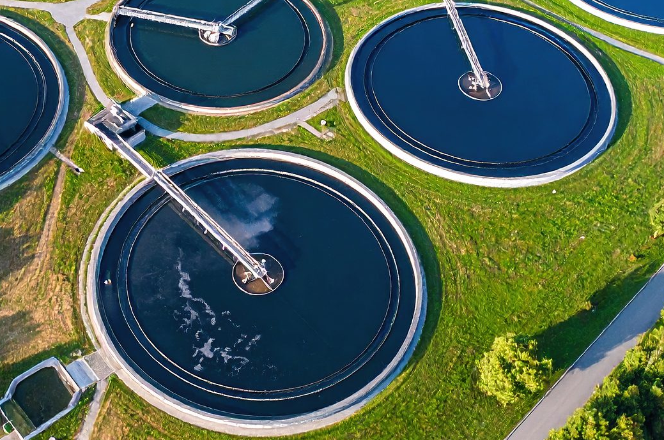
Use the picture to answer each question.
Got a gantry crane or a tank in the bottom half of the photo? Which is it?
tank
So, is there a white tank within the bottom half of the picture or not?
No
